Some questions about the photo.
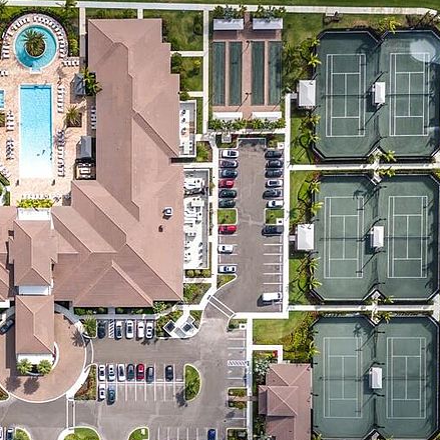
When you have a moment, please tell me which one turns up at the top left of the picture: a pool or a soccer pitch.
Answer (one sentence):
There is a pool at the top left of the picture.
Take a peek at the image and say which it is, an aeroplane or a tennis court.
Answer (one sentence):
This aerial view contains a tennis court.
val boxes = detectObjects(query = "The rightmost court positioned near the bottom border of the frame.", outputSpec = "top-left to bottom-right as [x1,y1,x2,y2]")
[375,317,439,440]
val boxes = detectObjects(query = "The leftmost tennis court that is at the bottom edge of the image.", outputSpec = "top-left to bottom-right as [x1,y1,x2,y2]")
[311,317,375,440]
